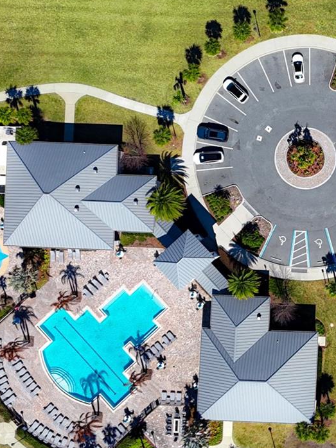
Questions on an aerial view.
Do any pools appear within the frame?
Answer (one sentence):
Yes, there is a pool in the image.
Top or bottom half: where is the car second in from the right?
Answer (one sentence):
The car second in from the right is in the top half of the image.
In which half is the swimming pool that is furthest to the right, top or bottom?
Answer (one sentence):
The swimming pool that is furthest to the right sits in the bottom half of the picture.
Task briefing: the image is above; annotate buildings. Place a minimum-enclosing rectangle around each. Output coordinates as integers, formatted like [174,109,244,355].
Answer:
[197,294,325,424]
[3,141,159,250]
[153,228,226,290]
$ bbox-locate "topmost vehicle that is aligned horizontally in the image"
[197,126,230,142]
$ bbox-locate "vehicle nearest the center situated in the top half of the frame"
[196,150,225,164]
